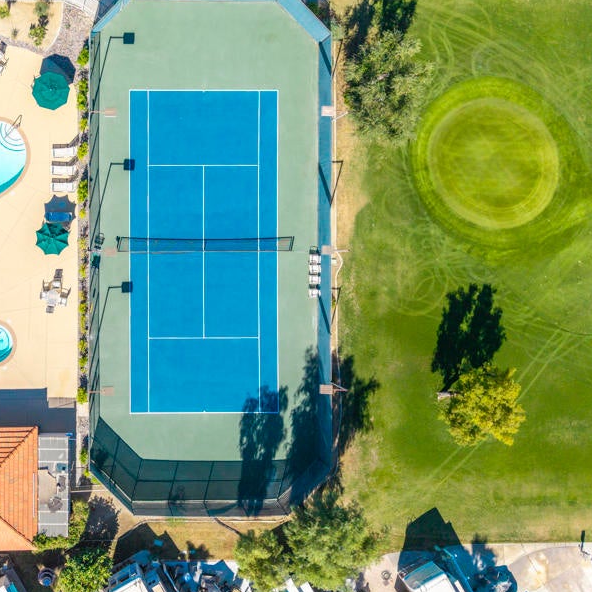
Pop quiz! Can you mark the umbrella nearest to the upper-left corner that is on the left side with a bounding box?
[34,72,72,110]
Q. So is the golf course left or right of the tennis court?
on the right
